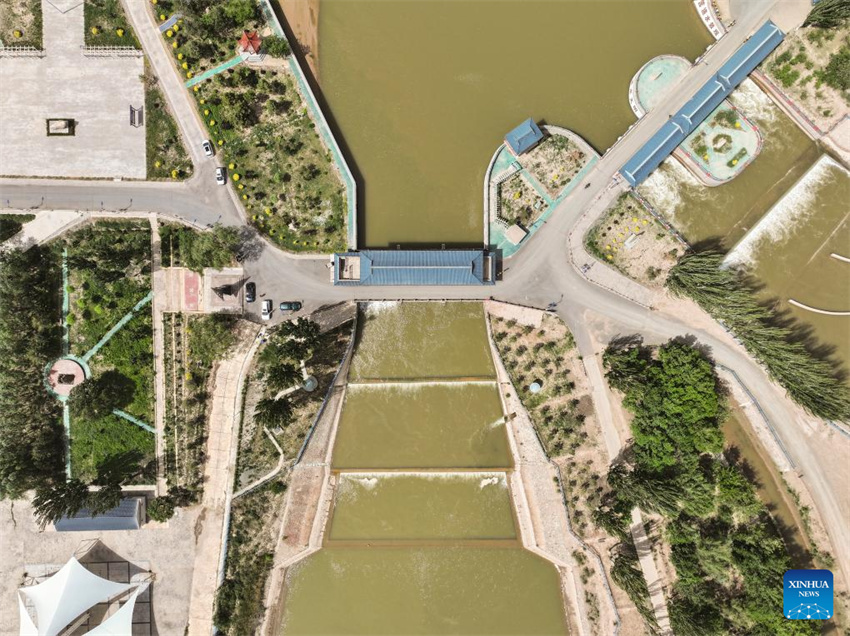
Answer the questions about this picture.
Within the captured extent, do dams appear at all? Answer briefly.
Yes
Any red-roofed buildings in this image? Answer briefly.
Yes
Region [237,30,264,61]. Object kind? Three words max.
building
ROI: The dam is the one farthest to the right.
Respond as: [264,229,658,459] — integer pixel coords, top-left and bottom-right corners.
[732,154,830,260]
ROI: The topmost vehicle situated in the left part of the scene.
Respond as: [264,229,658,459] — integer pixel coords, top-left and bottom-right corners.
[202,138,215,158]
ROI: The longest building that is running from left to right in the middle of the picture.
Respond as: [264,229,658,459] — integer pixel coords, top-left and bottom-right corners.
[330,250,496,286]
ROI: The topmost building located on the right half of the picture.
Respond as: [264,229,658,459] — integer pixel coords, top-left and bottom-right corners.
[502,117,544,161]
